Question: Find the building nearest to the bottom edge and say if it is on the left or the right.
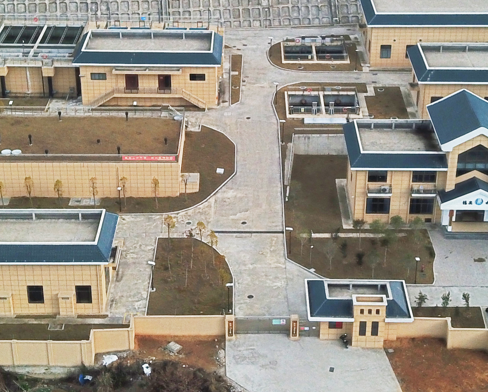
right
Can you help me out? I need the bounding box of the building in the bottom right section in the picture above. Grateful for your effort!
[305,282,415,346]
